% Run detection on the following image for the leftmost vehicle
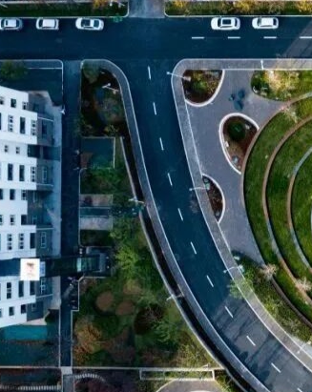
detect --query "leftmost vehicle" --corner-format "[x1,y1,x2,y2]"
[0,17,26,31]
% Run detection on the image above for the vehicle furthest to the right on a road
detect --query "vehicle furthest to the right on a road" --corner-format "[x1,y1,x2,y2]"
[253,16,280,30]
